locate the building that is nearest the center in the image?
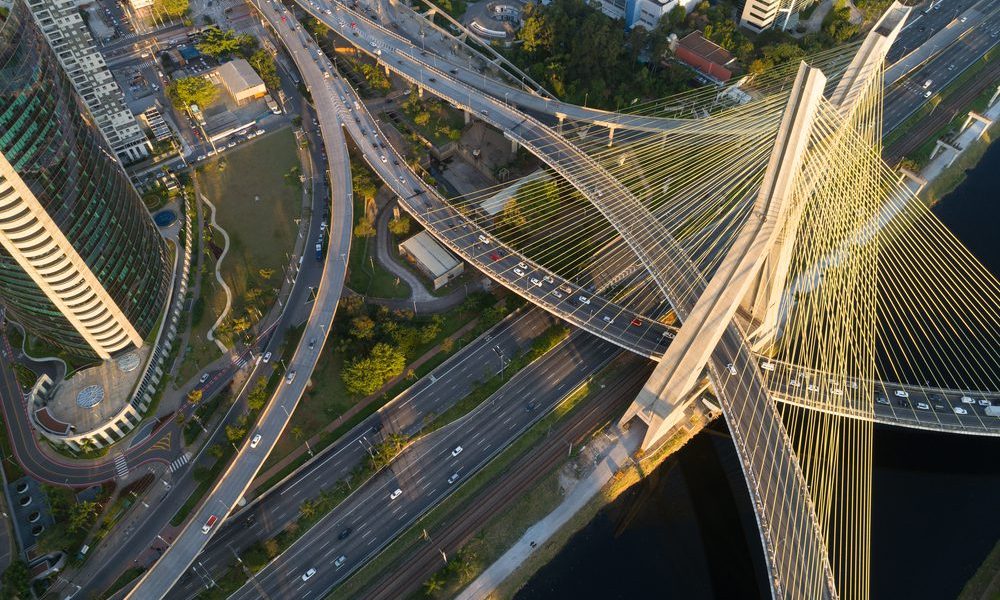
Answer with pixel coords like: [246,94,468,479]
[397,228,465,286]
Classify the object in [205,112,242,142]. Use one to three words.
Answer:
shed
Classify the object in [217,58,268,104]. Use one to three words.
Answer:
building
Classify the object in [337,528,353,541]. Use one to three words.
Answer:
vehicle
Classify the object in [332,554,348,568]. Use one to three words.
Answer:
vehicle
